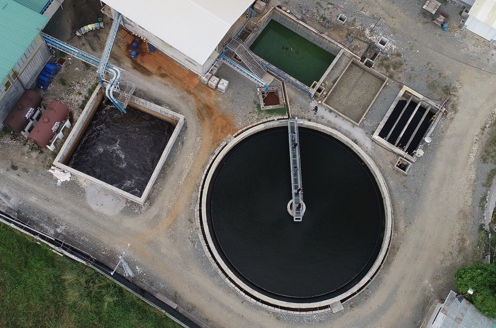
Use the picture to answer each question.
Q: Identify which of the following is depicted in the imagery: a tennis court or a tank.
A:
tank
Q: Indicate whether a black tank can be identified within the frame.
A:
Yes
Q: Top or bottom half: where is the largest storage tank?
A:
bottom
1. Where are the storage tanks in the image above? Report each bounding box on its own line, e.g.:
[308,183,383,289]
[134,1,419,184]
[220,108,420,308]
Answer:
[372,87,447,162]
[55,81,188,206]
[29,95,73,147]
[3,85,45,134]
[197,114,393,314]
